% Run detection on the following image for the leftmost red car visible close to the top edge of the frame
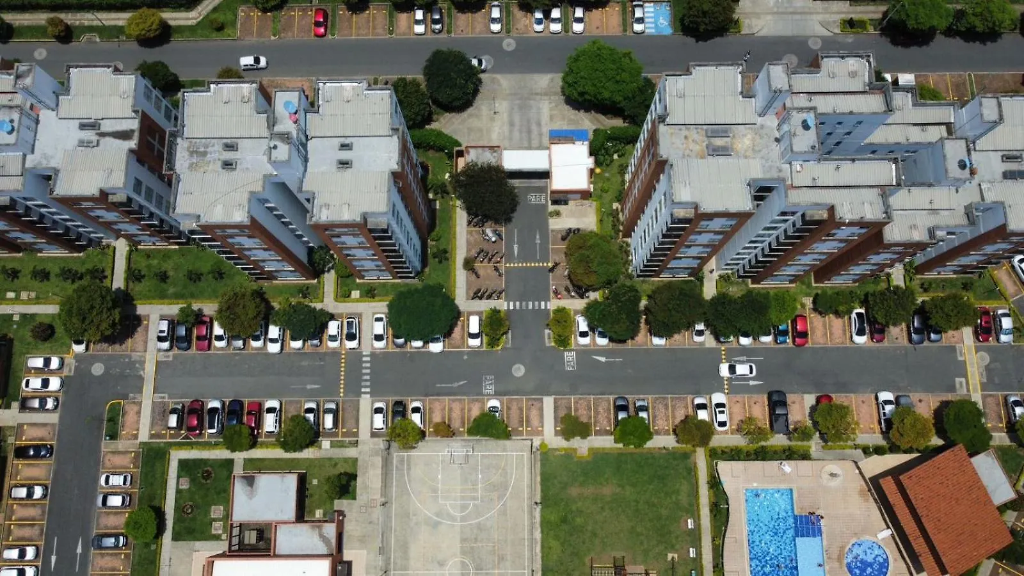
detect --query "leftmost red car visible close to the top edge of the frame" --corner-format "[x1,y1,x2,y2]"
[313,10,328,37]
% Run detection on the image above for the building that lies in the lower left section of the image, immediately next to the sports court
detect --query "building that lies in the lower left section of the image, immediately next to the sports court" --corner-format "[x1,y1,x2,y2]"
[204,473,353,576]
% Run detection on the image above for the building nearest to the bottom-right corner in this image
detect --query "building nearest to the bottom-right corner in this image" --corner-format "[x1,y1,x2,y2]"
[869,445,1013,576]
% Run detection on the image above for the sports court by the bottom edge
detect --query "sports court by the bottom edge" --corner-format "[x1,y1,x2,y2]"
[384,439,537,576]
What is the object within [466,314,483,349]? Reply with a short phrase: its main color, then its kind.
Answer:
white car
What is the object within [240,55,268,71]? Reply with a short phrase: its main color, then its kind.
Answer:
white car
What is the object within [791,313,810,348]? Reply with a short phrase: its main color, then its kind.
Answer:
red car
